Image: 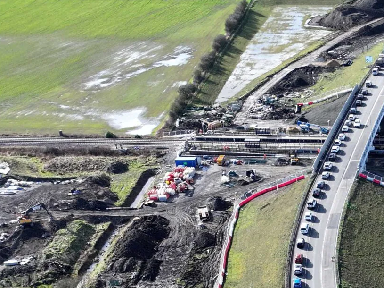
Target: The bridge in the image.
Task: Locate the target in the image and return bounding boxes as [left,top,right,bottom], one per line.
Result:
[303,78,384,203]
